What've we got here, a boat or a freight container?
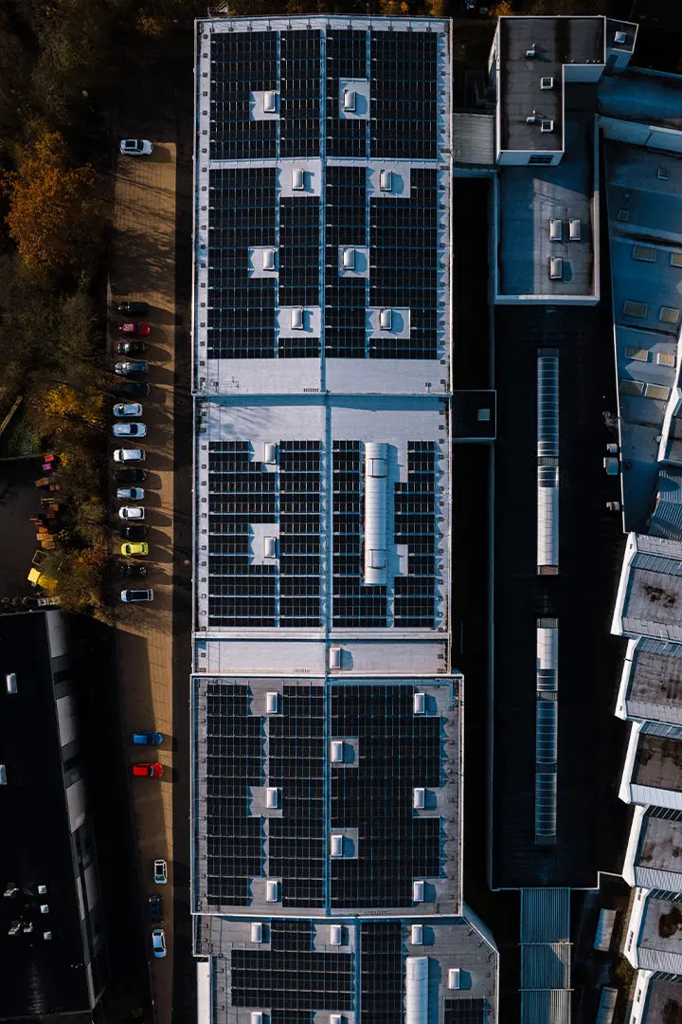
freight container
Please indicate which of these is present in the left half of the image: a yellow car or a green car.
yellow car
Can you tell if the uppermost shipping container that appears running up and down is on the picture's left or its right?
right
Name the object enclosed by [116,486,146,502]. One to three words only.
car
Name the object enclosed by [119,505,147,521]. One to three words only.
car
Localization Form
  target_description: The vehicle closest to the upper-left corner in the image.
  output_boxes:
[119,137,154,159]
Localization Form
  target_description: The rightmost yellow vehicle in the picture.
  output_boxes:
[121,541,151,557]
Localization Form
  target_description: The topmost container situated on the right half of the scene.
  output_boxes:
[589,903,617,952]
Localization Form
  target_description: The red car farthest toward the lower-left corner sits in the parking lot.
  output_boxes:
[133,762,165,778]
